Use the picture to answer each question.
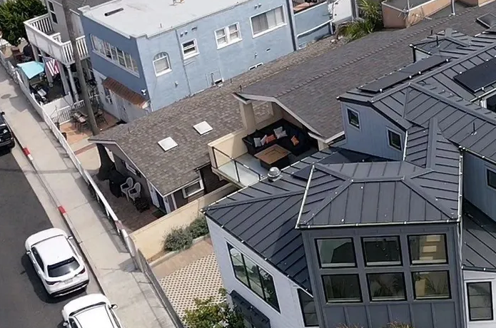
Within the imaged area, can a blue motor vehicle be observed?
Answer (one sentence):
No, no blue motor vehicle can be seen from above.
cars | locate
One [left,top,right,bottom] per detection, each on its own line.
[54,290,127,328]
[20,225,94,299]
[0,108,22,154]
